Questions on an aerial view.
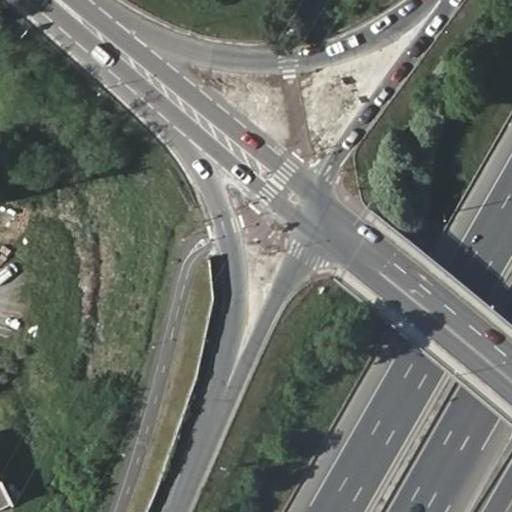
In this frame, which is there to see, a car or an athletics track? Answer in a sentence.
I can see a car in this picture.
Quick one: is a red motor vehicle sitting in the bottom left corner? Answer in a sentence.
No, no red motor vehicle is visible in the bottom left corner.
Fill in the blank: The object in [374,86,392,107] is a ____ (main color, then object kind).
white car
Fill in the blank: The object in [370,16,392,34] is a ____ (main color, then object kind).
white car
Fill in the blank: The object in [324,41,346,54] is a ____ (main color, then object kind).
white vehicle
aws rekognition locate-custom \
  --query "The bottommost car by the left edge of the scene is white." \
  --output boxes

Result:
[2,314,24,332]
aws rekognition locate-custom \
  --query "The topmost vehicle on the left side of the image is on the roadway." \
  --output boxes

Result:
[92,44,115,66]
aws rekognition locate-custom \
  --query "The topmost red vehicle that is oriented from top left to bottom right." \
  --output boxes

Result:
[240,132,260,150]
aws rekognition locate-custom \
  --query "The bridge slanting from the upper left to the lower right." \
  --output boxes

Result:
[334,214,512,427]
